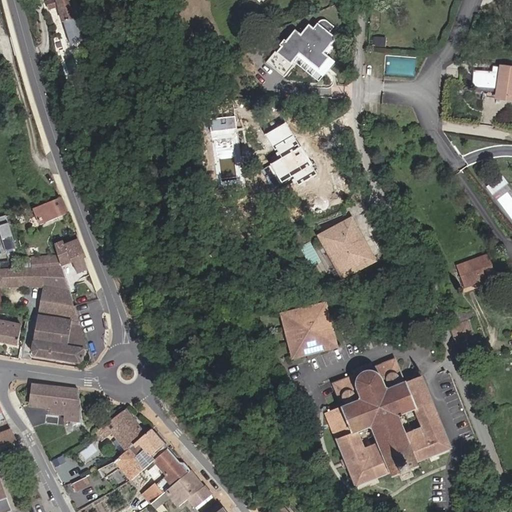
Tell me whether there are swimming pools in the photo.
Yes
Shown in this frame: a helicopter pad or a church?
church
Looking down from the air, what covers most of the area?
trees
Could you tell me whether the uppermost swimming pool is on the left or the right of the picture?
right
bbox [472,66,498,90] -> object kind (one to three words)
house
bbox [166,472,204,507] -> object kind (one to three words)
house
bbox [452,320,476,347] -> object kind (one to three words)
shed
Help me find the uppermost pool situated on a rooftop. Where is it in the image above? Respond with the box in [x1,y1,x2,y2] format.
[218,158,237,180]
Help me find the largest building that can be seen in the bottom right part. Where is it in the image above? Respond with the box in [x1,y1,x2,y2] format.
[325,358,448,487]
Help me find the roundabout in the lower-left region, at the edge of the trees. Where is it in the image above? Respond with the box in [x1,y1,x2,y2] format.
[84,340,154,404]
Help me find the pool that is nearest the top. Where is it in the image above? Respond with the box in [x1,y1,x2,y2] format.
[384,55,417,78]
